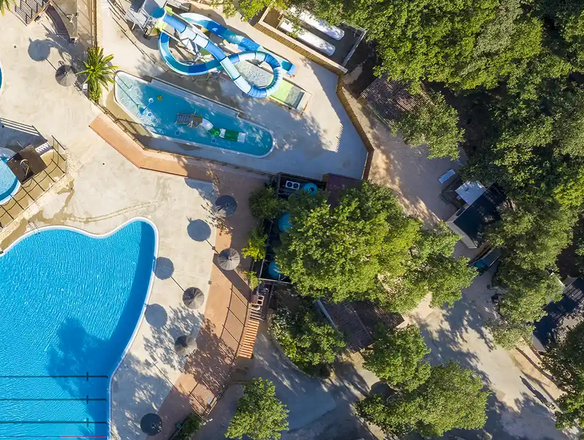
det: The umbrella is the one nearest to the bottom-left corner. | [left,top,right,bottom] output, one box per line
[139,412,162,435]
